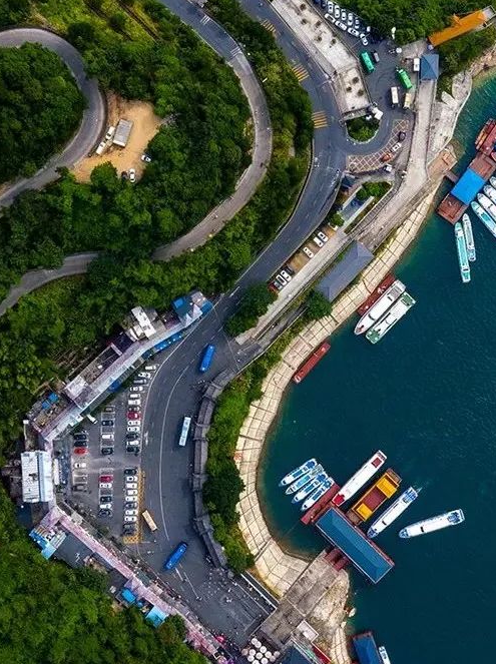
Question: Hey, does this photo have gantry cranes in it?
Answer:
No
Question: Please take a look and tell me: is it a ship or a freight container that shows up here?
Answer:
ship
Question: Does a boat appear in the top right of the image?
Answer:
Yes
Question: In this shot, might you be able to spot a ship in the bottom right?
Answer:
Yes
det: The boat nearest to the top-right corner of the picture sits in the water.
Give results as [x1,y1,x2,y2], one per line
[474,120,495,150]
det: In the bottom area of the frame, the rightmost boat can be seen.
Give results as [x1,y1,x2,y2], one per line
[398,509,466,536]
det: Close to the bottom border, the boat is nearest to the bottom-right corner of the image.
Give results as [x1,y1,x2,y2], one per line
[378,644,390,664]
